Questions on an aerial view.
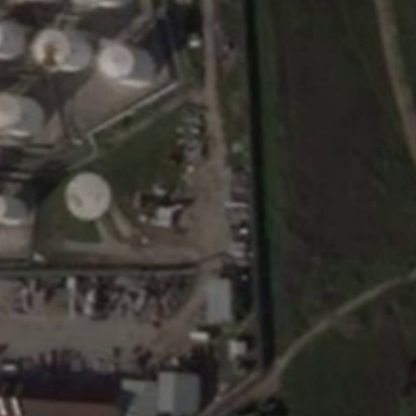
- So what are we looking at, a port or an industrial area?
industrial area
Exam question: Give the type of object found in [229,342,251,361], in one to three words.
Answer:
shed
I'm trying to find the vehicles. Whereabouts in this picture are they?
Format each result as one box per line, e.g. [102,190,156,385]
[4,364,18,371]
[190,332,212,341]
